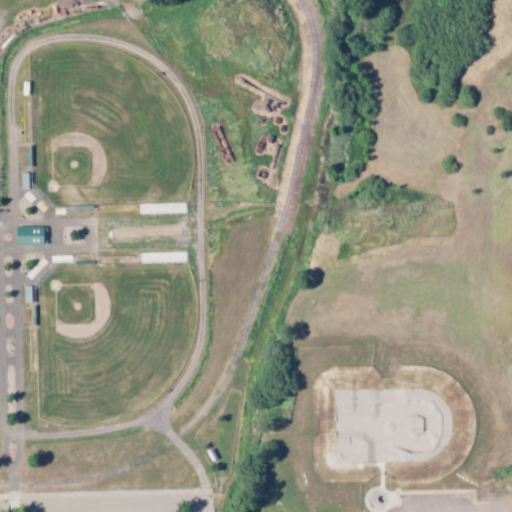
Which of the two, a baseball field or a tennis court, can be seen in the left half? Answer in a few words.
baseball field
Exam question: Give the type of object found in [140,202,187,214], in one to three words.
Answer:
shed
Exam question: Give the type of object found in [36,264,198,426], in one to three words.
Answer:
baseball field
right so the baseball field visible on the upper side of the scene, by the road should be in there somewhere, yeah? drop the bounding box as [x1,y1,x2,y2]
[31,44,192,207]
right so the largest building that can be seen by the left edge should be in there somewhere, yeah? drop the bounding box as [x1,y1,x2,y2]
[17,226,46,245]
